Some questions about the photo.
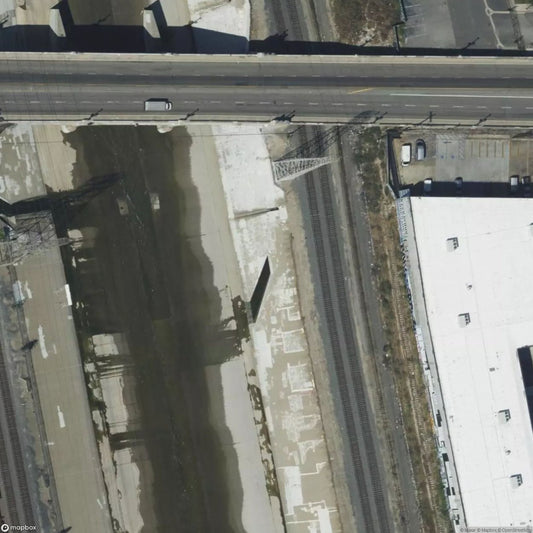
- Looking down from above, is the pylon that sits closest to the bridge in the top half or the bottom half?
top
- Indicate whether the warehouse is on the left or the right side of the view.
right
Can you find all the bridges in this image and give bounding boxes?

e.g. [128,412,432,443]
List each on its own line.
[0,7,533,135]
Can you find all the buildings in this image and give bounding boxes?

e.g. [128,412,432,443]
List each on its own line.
[395,196,533,533]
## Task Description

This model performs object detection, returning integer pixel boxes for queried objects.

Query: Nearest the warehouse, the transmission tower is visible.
[275,159,356,182]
